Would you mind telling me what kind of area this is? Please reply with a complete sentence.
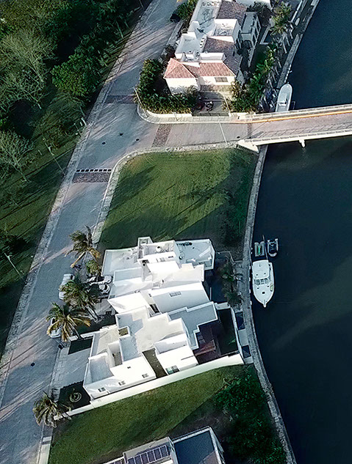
It's a residential area.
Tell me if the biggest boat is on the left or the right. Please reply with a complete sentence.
The biggest boat sits on the right side.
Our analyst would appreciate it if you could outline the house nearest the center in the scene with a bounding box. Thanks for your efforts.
[103,237,222,316]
